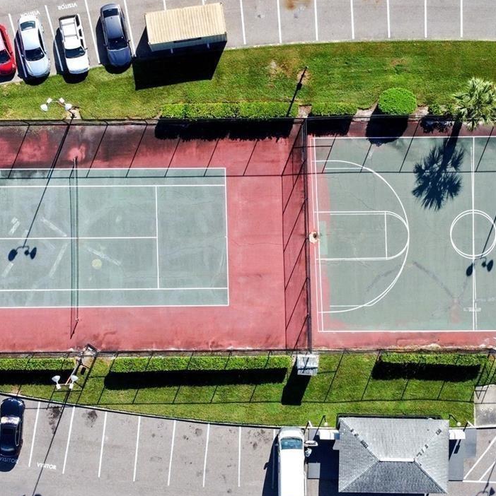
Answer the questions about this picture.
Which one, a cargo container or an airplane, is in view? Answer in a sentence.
Of the two, only a cargo container appears.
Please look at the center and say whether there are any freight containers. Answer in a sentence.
No, no freight container can be made out at the center.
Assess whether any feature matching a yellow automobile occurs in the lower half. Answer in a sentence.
No, no yellow automobile appears in the lower half.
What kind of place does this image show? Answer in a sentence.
It's a sports ground.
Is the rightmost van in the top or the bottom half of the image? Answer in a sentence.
Seen from above, the rightmost van lies in the bottom half of the view.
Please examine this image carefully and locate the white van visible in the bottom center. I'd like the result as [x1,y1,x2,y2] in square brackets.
[276,425,316,496]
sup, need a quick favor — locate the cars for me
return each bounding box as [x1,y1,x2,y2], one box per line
[59,14,92,75]
[0,397,24,457]
[101,4,134,70]
[0,23,20,80]
[18,15,54,80]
